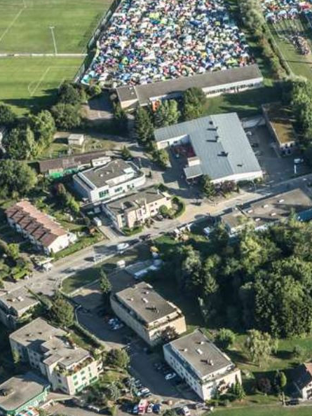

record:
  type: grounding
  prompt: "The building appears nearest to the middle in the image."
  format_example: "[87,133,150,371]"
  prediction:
[112,185,173,229]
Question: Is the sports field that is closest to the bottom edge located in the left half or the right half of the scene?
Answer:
left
